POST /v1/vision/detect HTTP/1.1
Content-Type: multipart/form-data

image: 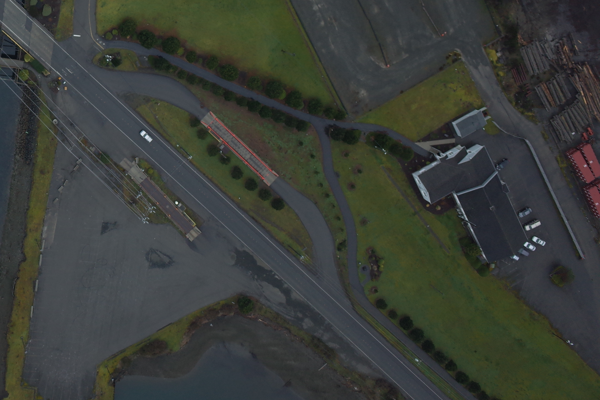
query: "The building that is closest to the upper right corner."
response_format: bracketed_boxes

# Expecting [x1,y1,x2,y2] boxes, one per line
[451,105,491,138]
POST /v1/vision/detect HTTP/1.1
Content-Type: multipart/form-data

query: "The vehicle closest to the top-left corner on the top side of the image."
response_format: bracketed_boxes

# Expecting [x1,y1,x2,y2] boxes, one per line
[139,129,155,145]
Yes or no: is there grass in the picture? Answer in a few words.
Yes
